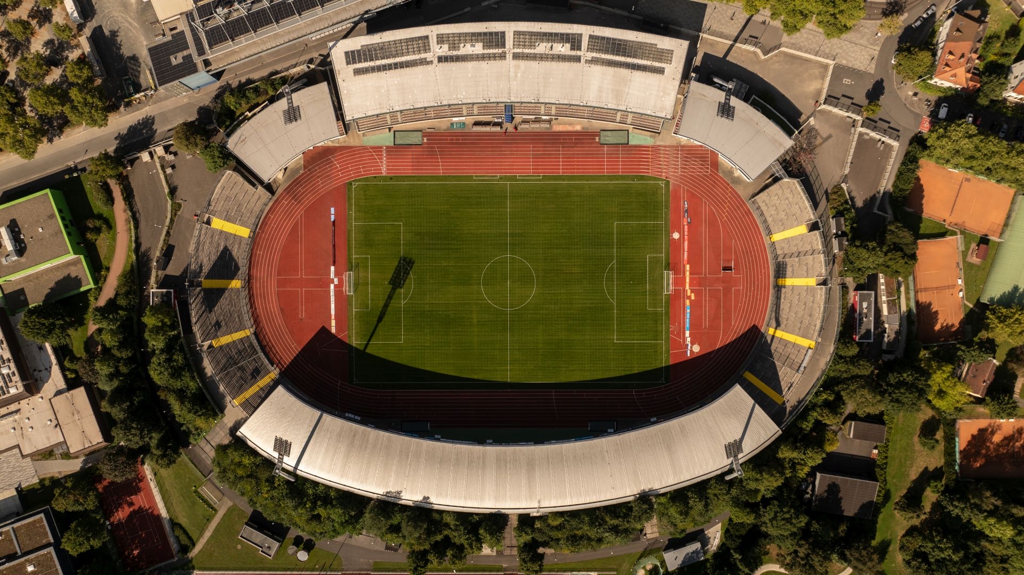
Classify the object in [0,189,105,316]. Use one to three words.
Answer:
building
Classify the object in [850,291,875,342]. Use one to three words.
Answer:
building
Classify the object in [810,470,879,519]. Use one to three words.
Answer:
shed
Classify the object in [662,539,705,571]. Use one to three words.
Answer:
shed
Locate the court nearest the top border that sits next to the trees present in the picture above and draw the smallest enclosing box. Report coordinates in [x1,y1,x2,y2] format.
[910,160,1015,235]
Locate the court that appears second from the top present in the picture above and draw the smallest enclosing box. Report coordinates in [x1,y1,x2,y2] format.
[915,237,964,344]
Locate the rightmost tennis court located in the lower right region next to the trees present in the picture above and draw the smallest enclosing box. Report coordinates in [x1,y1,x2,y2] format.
[957,419,1024,478]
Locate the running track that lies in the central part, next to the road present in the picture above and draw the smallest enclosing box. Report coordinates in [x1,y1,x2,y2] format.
[246,131,771,440]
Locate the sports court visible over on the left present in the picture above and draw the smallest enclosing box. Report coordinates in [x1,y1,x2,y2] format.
[98,462,180,575]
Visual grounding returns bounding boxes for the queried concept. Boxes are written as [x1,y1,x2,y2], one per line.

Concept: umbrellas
[288,546,298,555]
[297,551,308,561]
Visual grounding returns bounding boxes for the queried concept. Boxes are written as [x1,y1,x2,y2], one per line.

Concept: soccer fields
[348,175,670,389]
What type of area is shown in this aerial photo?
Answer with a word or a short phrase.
sports ground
